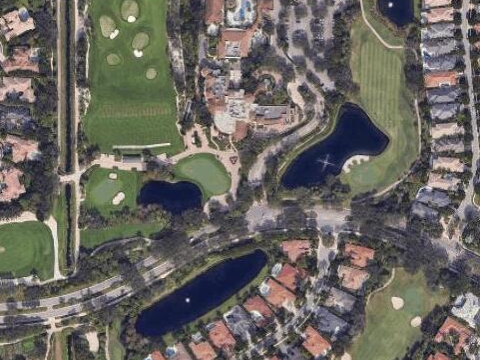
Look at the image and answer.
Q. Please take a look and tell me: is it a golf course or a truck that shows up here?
golf course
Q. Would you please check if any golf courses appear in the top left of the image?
No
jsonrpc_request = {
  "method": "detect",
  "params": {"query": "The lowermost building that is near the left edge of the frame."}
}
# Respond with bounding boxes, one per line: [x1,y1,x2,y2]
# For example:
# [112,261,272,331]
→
[0,167,23,201]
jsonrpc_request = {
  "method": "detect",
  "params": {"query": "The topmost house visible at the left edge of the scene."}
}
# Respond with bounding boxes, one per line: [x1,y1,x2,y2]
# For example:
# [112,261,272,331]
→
[0,9,35,42]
